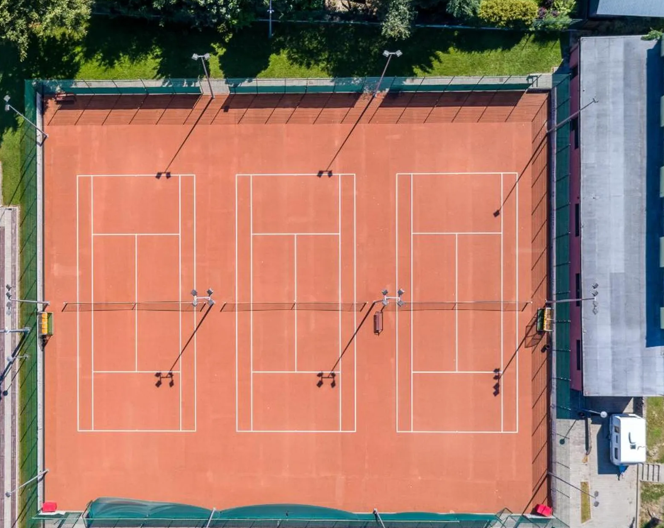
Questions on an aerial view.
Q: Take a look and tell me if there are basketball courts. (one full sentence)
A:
No, there is no basketball court in the image.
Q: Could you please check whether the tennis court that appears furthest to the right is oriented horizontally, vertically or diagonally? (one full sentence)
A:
The tennis court that appears furthest to the right is laid out vertically.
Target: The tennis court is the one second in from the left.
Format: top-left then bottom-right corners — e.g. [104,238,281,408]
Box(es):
[232,169,359,436]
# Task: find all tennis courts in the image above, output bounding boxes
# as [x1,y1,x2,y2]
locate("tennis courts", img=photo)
[392,168,522,437]
[73,171,199,436]
[232,169,359,436]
